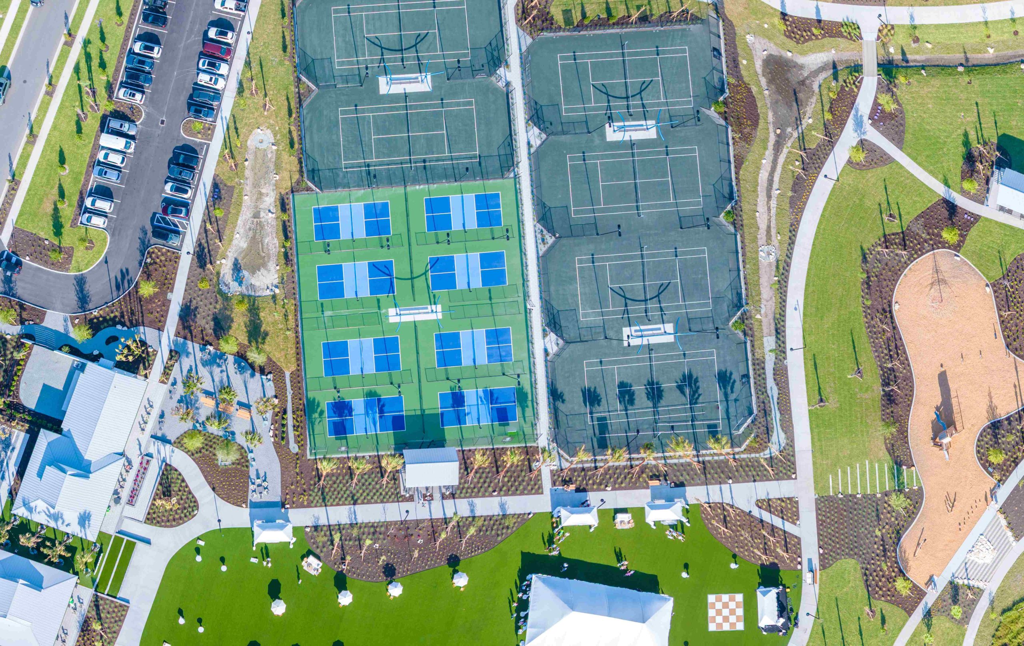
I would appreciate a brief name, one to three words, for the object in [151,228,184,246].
vehicle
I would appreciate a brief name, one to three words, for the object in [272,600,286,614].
umbrella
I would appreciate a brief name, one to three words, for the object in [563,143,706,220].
tennis court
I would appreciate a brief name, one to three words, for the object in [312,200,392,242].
sports court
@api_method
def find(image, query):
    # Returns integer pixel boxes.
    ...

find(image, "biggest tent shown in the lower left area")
[253,519,296,543]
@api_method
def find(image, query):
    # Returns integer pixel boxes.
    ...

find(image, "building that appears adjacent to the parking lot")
[12,359,151,542]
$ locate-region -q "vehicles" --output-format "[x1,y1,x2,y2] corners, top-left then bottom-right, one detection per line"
[165,183,192,197]
[0,256,23,270]
[86,196,115,213]
[162,204,189,219]
[126,71,153,86]
[109,119,137,135]
[151,228,184,246]
[94,167,121,183]
[188,105,216,121]
[141,0,168,12]
[198,73,225,89]
[134,42,162,58]
[200,59,228,75]
[172,151,200,166]
[81,213,109,228]
[0,77,12,104]
[166,165,199,182]
[203,43,232,60]
[119,88,146,104]
[215,0,247,16]
[99,150,126,165]
[208,27,235,44]
[194,89,221,106]
[142,11,169,27]
[127,56,154,72]
[98,132,135,152]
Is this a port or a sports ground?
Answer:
sports ground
